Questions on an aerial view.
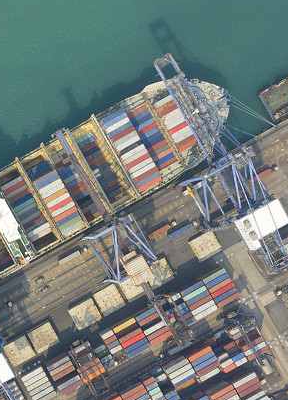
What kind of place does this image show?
port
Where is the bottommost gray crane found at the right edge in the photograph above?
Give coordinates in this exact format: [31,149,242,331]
[216,308,279,370]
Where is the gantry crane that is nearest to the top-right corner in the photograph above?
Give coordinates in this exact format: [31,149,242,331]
[150,49,288,263]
